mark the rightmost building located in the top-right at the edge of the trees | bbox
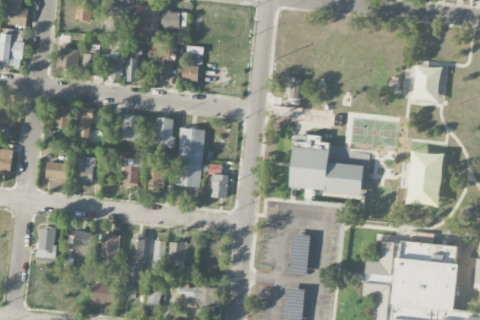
[410,64,444,104]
